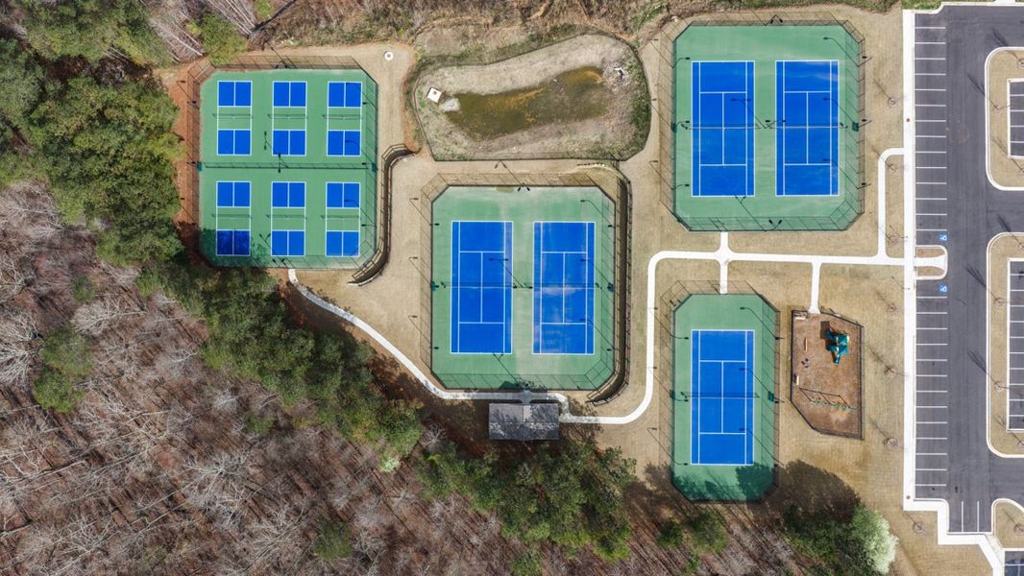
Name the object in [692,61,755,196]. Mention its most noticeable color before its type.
blue tennis court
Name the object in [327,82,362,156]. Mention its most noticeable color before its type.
blue sports court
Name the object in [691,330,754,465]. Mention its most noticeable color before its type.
blue tennis court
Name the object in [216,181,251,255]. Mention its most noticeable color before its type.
blue sports court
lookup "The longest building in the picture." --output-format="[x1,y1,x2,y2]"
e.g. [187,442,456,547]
[488,403,559,442]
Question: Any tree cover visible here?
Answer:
Yes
